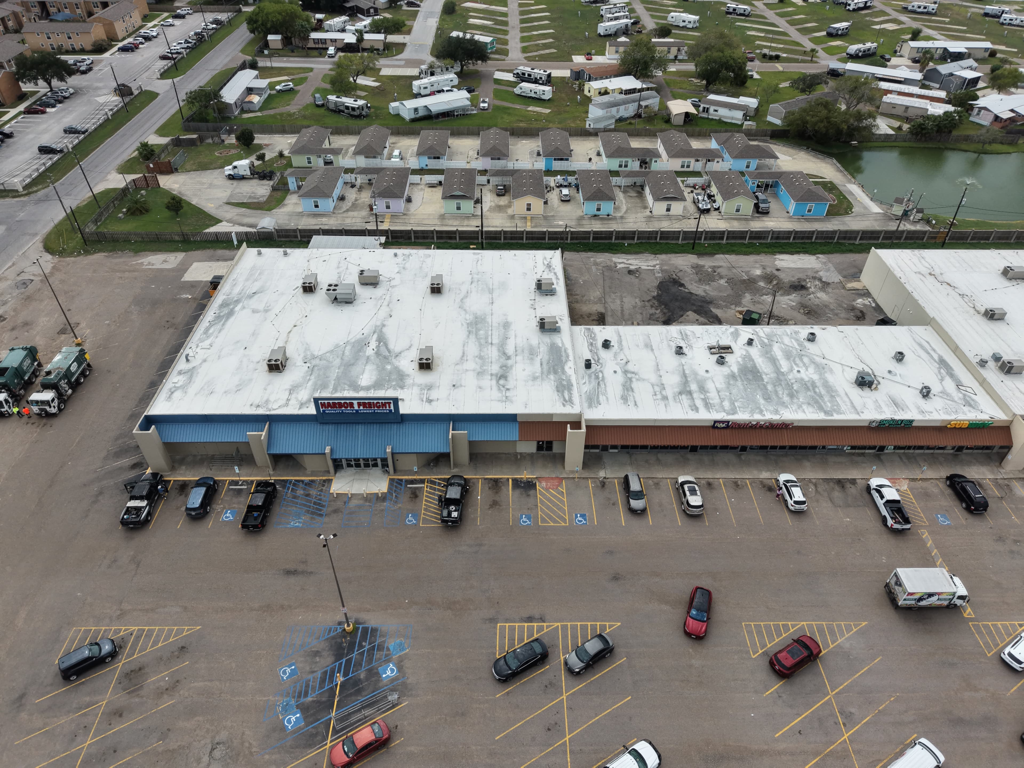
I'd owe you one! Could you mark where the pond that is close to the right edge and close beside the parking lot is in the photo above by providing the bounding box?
[839,147,1024,222]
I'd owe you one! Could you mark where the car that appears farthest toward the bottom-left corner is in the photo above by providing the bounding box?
[51,637,125,688]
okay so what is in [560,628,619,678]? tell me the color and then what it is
gray car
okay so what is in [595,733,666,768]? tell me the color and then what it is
white truck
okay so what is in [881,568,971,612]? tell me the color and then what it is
white truck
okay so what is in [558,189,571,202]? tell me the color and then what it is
gray vehicle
